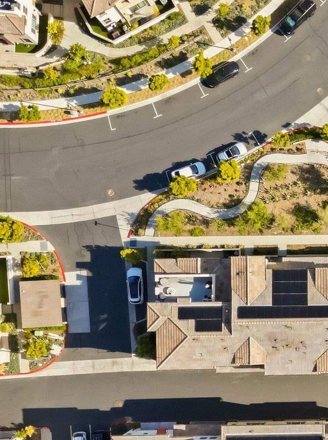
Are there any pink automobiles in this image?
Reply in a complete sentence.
No, no pink automobile is visible in the view.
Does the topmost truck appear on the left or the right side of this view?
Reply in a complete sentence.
The topmost truck is on the right side of the image.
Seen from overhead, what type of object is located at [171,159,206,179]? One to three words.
car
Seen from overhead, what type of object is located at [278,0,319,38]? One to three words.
truck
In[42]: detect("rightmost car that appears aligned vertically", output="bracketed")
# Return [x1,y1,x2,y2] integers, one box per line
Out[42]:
[126,268,143,304]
